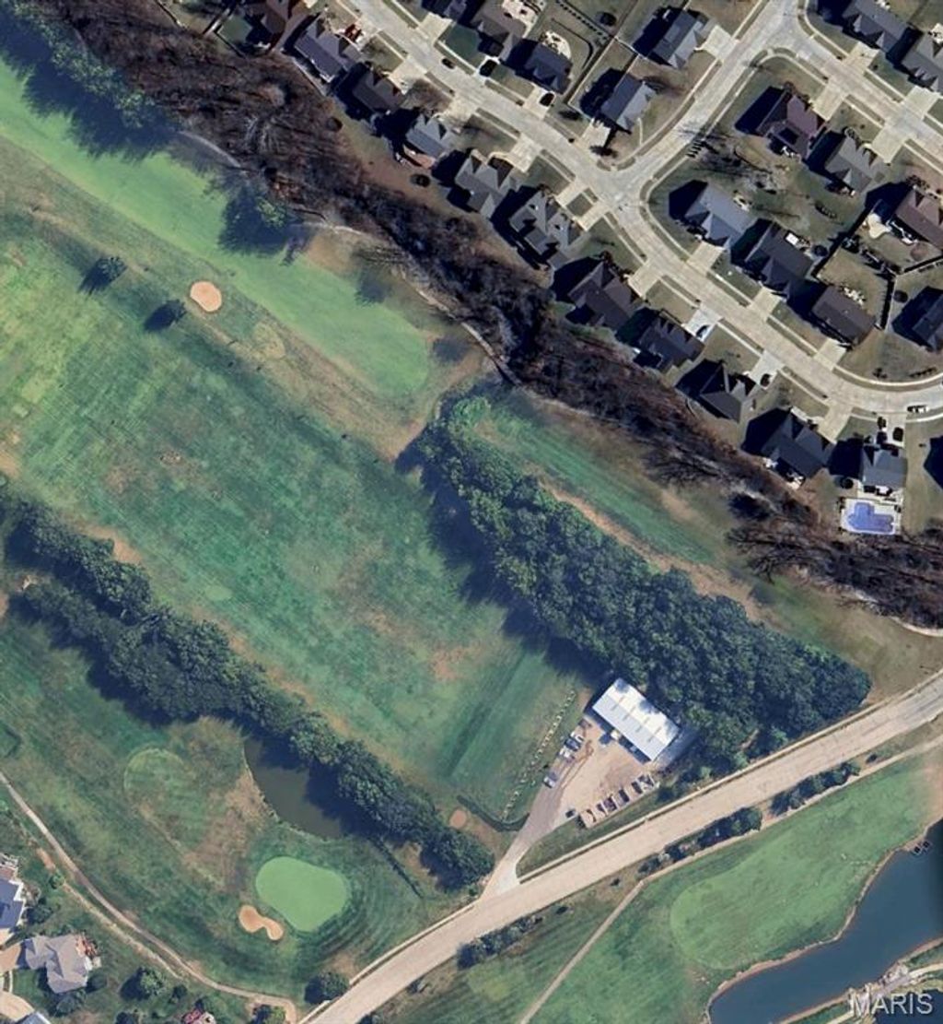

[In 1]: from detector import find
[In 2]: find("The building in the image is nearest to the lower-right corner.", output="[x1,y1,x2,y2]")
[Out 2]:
[592,677,681,762]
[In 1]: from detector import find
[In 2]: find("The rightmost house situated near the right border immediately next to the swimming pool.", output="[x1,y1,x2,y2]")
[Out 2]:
[861,445,911,489]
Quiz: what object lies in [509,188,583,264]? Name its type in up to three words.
house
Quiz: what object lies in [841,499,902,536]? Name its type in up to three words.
swimming pool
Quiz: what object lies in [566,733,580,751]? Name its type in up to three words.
vehicle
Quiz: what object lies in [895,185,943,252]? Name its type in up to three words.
house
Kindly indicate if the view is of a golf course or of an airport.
golf course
